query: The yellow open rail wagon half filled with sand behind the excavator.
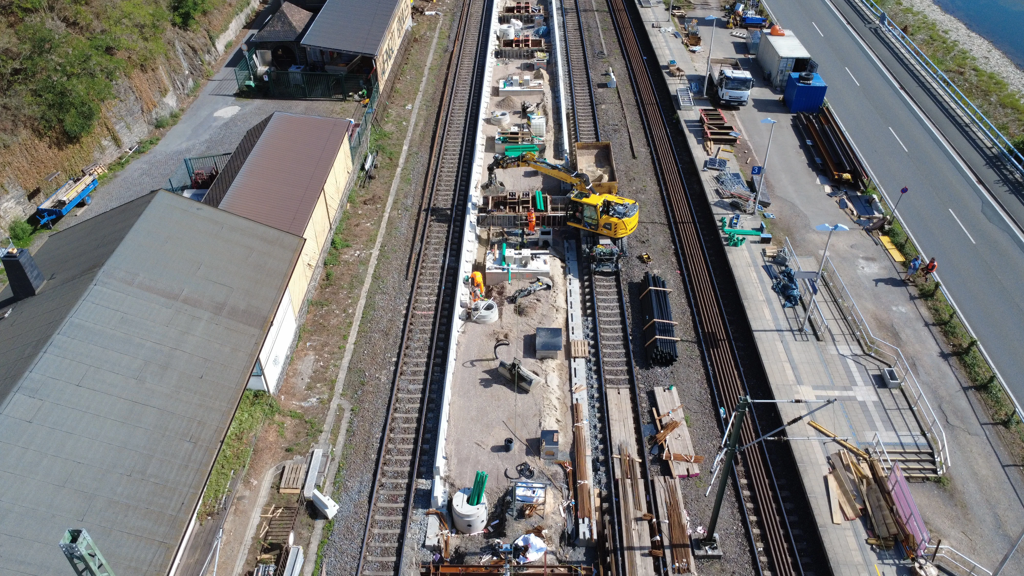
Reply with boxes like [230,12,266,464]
[574,141,619,196]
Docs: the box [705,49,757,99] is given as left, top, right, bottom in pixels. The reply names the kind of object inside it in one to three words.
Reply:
truck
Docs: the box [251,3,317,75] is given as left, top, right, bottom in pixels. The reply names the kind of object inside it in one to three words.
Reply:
house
